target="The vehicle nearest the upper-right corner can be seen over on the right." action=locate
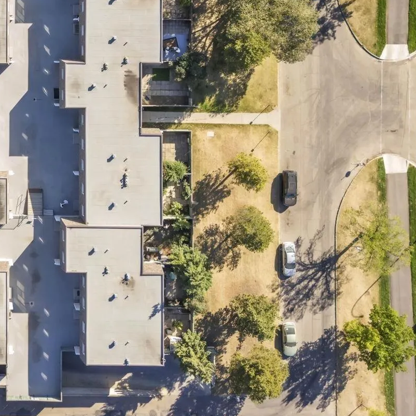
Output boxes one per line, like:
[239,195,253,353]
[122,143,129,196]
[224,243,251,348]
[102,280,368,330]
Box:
[280,170,300,205]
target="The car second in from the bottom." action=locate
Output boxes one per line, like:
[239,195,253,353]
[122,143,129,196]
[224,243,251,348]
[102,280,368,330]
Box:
[280,242,298,276]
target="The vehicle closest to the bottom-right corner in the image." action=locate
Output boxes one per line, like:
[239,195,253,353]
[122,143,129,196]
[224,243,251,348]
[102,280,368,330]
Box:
[280,321,299,356]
